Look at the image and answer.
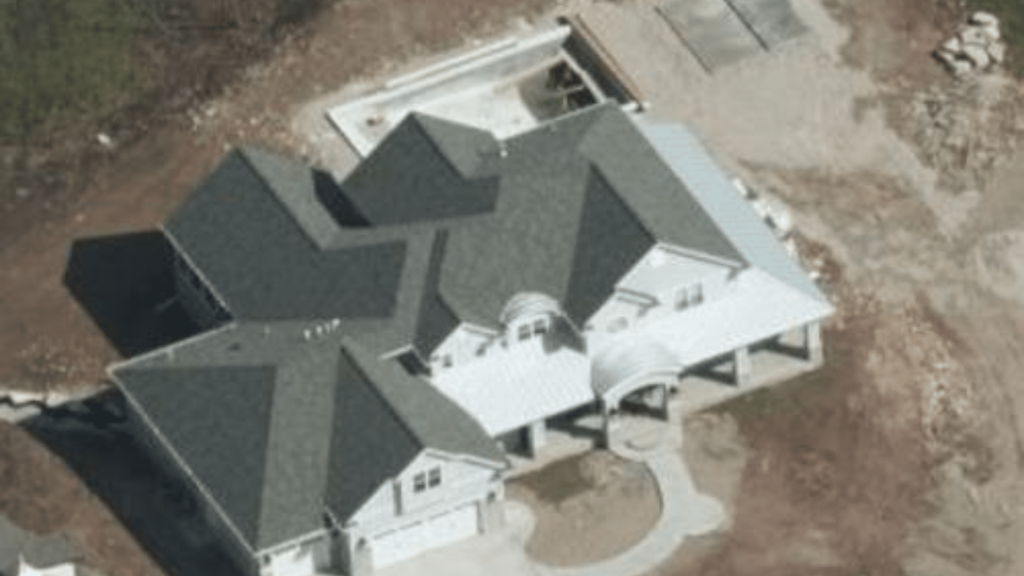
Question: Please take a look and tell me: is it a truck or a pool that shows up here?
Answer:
pool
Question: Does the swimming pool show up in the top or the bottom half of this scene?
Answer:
top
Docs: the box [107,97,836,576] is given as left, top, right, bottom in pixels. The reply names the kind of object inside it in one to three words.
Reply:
house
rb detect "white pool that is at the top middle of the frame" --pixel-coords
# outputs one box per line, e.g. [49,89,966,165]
[330,27,606,161]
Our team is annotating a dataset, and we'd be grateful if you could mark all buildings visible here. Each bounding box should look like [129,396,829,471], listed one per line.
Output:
[0,510,72,576]
[107,97,836,576]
